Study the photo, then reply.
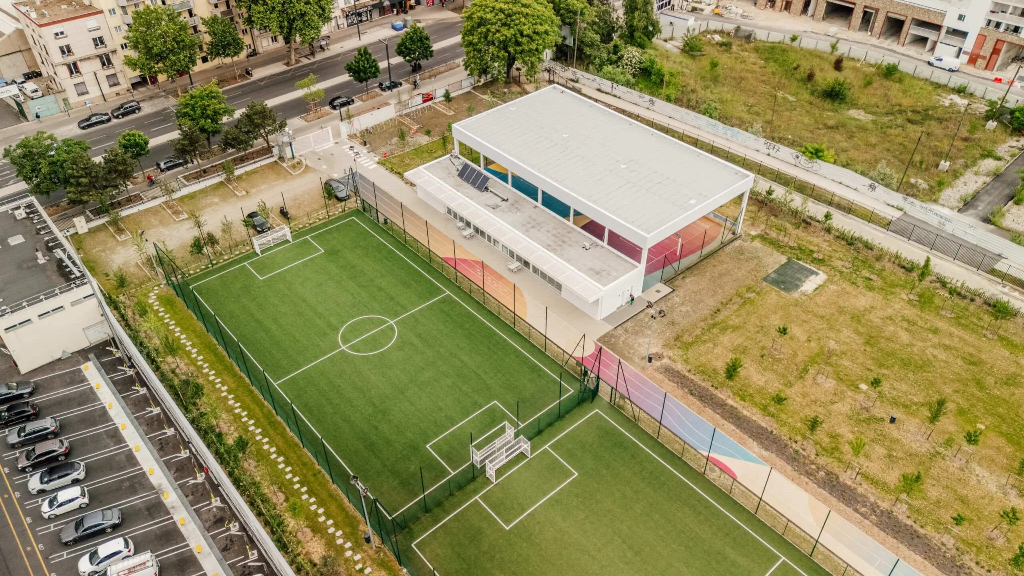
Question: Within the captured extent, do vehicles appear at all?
Yes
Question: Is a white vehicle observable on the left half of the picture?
Yes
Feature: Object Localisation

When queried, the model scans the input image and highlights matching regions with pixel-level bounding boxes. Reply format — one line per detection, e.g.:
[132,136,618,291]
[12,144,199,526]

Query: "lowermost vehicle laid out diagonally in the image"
[73,530,140,576]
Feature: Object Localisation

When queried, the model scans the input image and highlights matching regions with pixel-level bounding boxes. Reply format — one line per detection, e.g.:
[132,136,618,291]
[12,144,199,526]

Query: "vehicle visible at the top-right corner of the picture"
[927,57,963,74]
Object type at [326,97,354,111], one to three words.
car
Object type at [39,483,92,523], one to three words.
car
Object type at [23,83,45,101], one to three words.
vehicle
